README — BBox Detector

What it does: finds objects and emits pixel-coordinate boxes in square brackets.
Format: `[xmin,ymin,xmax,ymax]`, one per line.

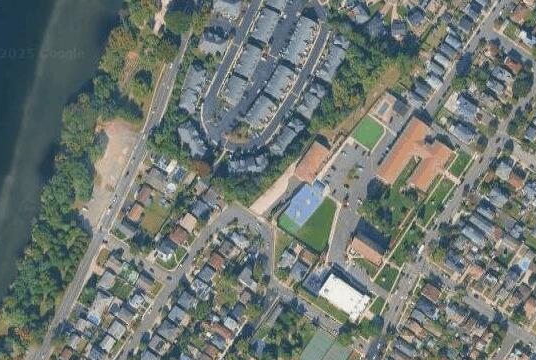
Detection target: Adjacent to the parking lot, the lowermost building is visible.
[318,273,370,323]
